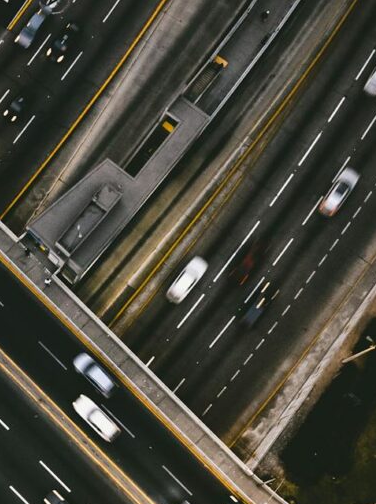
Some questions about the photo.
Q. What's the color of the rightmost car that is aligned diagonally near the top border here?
black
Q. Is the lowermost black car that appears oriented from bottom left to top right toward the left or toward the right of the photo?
right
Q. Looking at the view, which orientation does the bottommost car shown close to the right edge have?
at an angle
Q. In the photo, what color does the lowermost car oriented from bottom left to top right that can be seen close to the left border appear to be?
black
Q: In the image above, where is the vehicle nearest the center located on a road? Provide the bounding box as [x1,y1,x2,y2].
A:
[167,257,206,302]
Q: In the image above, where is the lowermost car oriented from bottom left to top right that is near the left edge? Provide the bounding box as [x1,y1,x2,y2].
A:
[0,82,36,128]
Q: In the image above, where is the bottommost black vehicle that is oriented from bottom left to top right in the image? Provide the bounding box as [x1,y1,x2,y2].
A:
[236,279,277,326]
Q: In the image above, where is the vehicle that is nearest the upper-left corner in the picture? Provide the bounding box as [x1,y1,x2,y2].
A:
[13,5,52,51]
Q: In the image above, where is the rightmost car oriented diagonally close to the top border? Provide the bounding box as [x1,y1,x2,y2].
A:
[45,18,84,64]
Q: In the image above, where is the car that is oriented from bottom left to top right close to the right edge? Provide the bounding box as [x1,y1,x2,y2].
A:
[317,167,359,214]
